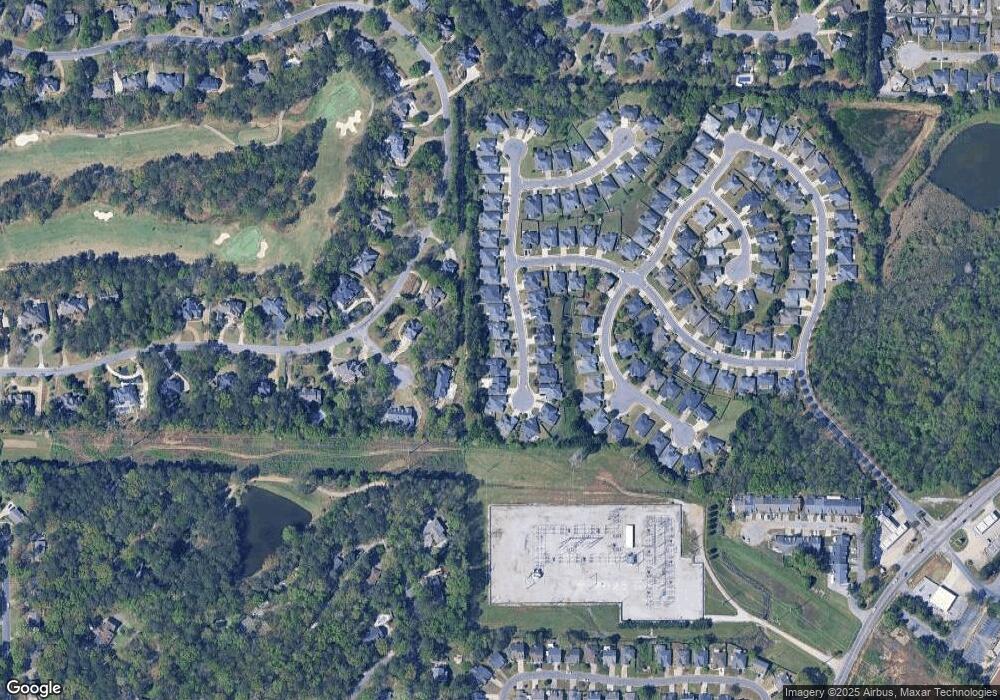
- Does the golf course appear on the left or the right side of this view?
left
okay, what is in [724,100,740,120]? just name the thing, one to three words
house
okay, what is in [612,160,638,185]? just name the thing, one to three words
house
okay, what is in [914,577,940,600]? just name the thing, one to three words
building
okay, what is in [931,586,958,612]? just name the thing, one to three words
building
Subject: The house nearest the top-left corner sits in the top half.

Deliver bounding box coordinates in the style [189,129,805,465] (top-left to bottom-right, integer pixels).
[21,2,48,22]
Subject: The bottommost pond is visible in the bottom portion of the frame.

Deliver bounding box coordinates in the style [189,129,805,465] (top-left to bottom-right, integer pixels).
[236,485,312,579]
